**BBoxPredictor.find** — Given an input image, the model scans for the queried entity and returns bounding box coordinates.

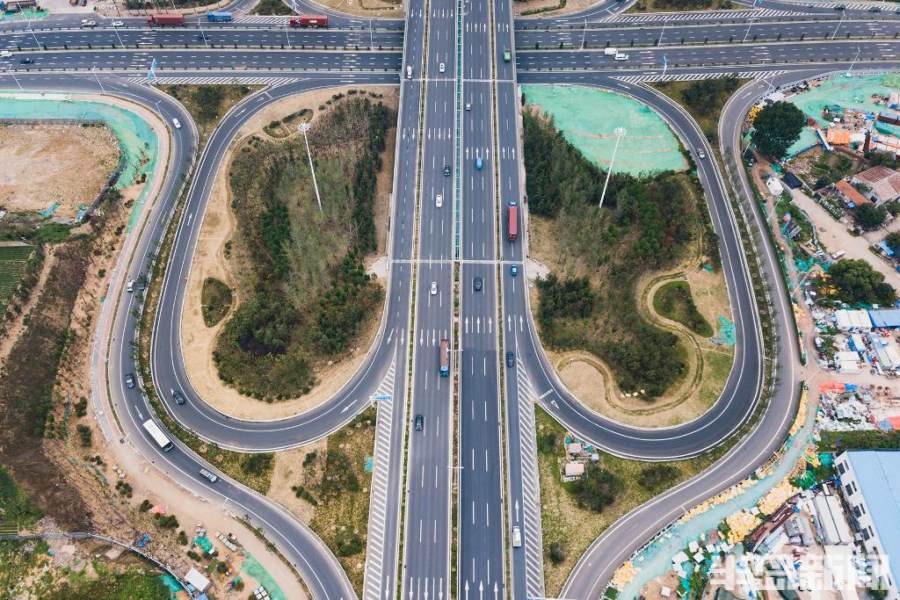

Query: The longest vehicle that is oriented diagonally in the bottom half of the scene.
[143,416,171,452]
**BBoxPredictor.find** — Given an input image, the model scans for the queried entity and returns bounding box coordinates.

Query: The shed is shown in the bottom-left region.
[185,567,212,592]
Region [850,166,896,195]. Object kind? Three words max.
house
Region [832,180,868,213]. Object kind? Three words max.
house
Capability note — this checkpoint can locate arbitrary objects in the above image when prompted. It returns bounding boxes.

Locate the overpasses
[364,0,549,287]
